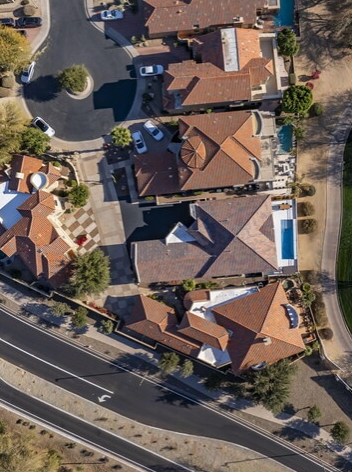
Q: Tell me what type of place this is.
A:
residential area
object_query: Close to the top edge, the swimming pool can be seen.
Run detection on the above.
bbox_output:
[277,0,296,27]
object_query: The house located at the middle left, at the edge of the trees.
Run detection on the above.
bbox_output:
[0,155,83,287]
